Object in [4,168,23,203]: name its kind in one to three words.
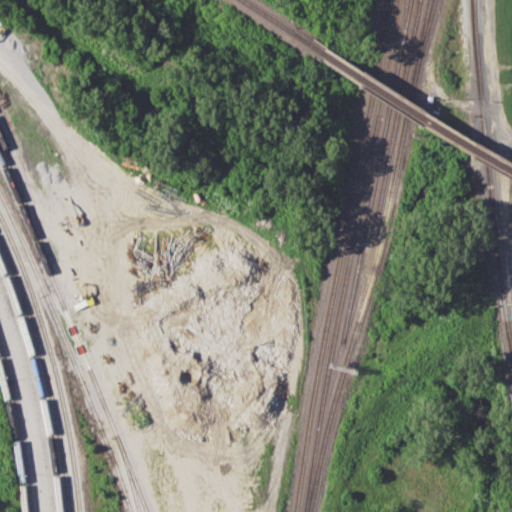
rail car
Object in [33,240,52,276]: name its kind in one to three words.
rail car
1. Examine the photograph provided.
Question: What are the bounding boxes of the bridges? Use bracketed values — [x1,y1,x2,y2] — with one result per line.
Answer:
[234,0,512,177]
